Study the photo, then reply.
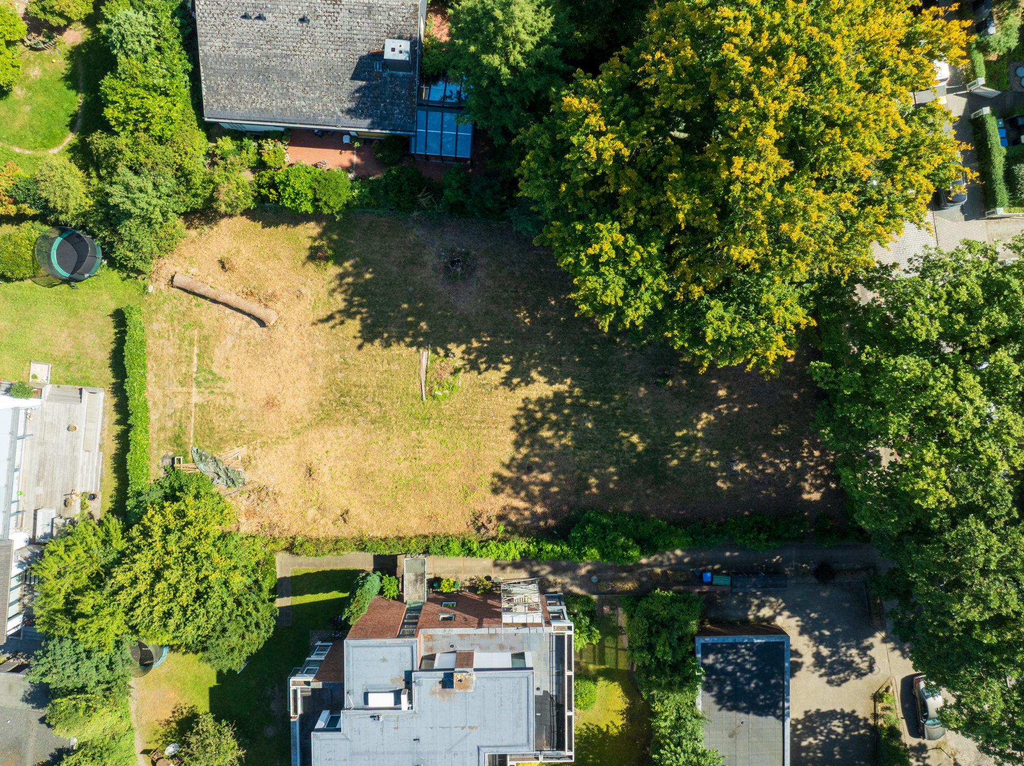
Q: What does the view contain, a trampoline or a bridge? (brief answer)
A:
trampoline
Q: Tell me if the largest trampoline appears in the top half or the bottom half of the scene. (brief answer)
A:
top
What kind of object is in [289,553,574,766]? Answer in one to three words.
building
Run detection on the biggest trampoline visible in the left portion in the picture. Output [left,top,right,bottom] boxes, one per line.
[32,222,108,288]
